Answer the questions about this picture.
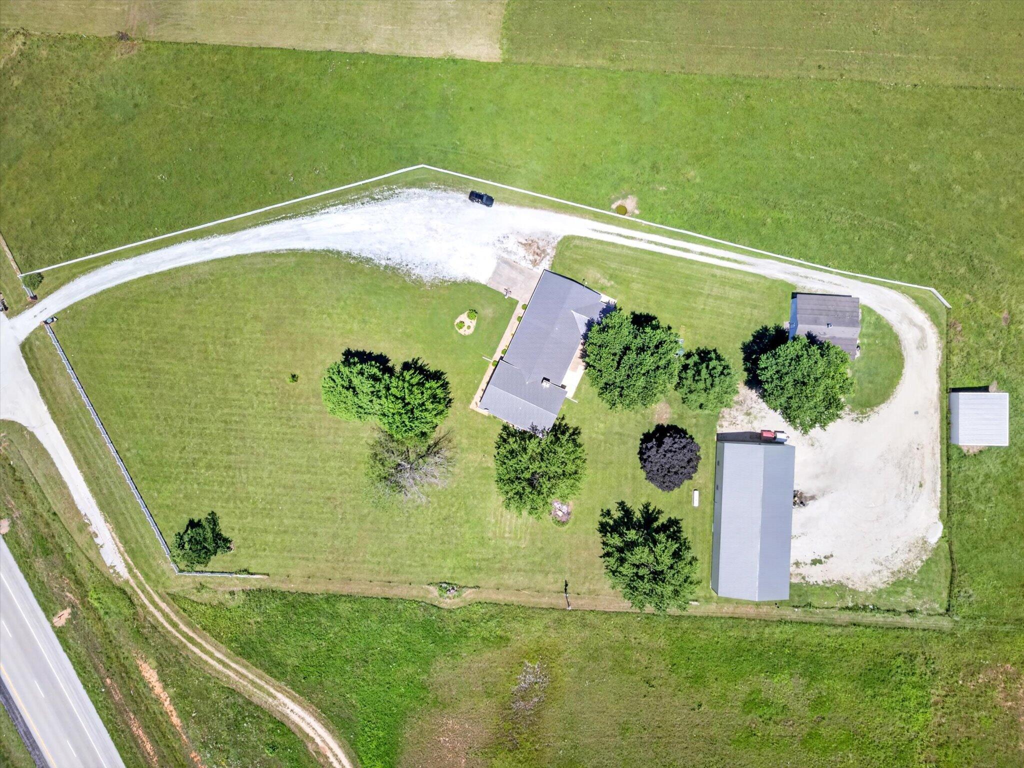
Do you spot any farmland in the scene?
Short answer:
Yes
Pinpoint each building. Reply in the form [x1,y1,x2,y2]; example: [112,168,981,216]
[478,270,617,439]
[951,392,1009,446]
[711,441,797,601]
[788,295,859,362]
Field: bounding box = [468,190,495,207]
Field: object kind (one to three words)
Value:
car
